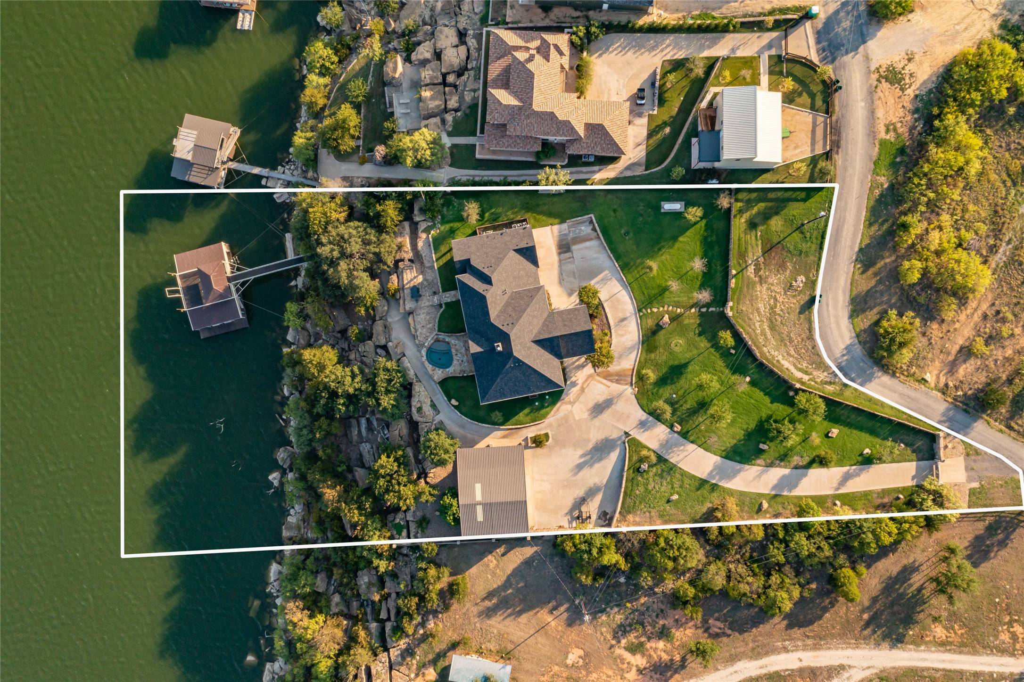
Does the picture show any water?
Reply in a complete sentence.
Yes, the picture does contain water.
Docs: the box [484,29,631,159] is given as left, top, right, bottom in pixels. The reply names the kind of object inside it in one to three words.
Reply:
house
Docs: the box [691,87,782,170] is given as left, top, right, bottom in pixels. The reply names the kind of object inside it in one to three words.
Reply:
barn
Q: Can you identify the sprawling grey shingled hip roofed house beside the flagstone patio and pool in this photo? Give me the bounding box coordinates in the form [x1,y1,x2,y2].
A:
[451,226,596,404]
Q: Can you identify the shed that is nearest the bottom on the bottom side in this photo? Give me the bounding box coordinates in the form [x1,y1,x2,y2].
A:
[447,648,512,682]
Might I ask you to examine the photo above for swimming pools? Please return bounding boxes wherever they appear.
[424,340,454,370]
